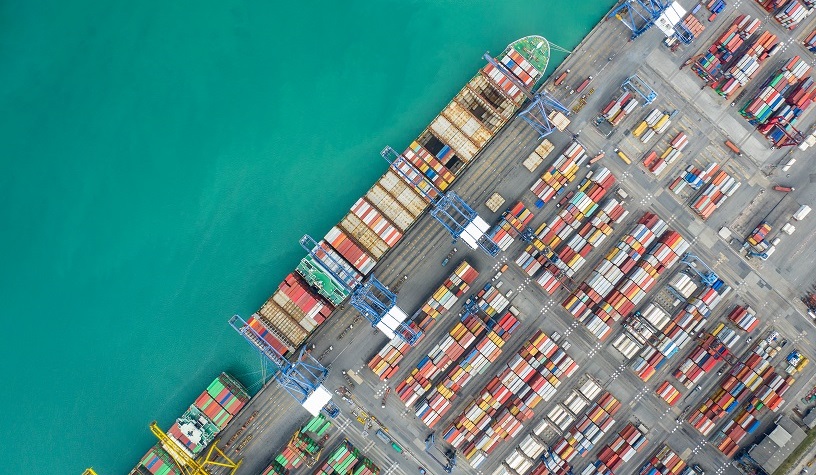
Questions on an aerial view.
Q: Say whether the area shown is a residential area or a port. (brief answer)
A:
port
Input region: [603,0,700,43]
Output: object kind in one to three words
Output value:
container crane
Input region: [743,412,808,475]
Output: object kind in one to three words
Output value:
building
